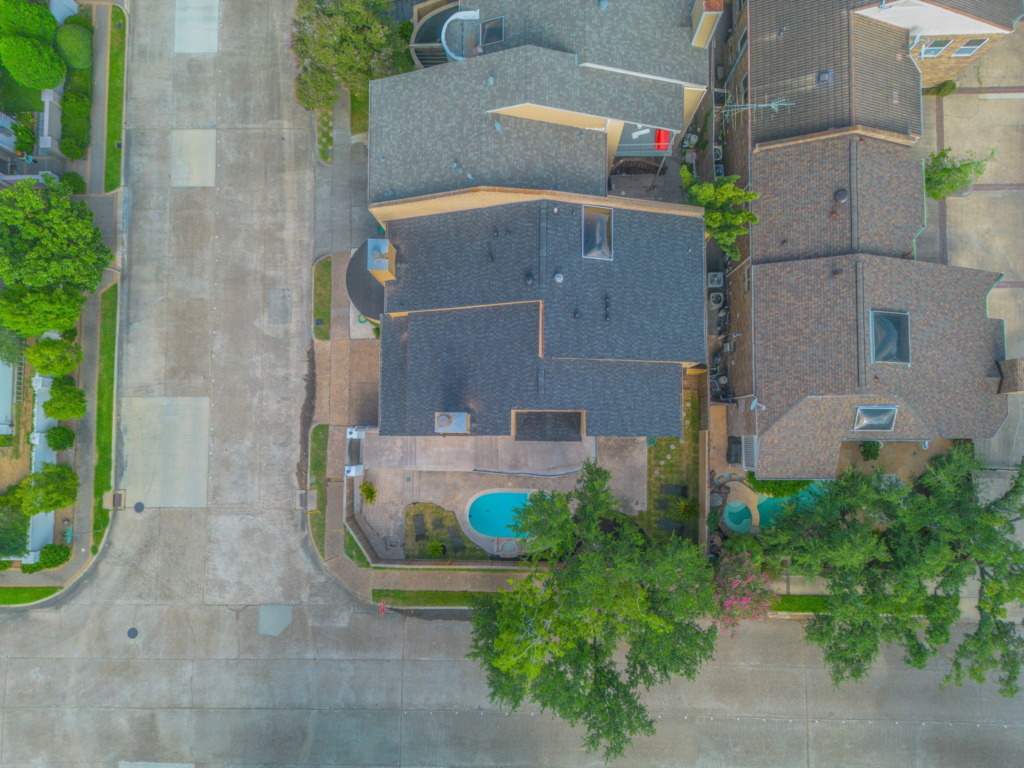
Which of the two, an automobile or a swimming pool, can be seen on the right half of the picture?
swimming pool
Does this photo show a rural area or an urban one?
urban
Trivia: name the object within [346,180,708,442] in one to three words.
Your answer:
house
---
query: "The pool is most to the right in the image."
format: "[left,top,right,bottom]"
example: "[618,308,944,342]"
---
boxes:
[755,485,833,536]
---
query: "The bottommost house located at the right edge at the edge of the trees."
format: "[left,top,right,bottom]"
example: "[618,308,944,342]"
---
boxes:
[733,255,1024,485]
